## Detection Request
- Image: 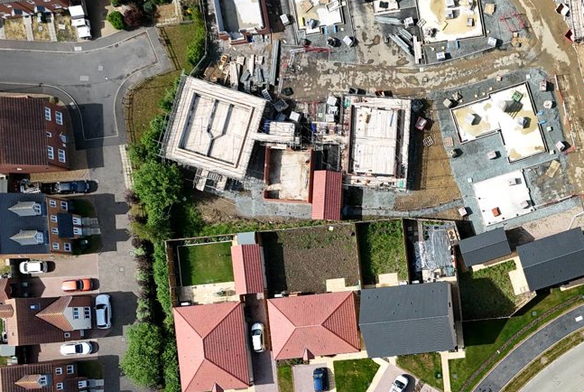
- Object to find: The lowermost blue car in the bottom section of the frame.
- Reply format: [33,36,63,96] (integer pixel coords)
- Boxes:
[313,367,328,392]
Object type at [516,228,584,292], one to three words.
house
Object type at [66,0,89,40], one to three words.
truck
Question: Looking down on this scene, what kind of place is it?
residential area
